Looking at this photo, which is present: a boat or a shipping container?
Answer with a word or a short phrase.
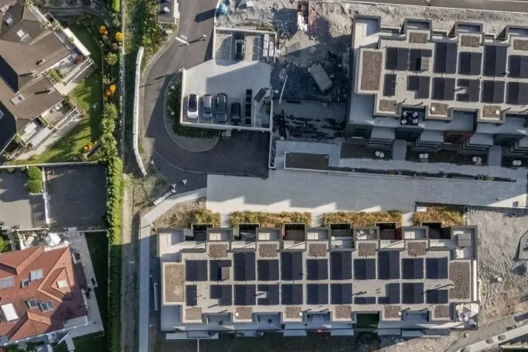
shipping container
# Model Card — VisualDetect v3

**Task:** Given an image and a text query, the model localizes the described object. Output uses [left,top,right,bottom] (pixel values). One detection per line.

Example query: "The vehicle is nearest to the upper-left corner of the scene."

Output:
[185,92,197,119]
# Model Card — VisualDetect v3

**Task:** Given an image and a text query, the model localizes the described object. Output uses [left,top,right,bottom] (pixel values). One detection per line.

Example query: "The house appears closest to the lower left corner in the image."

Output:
[0,235,94,348]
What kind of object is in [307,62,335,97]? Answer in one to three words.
shipping container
